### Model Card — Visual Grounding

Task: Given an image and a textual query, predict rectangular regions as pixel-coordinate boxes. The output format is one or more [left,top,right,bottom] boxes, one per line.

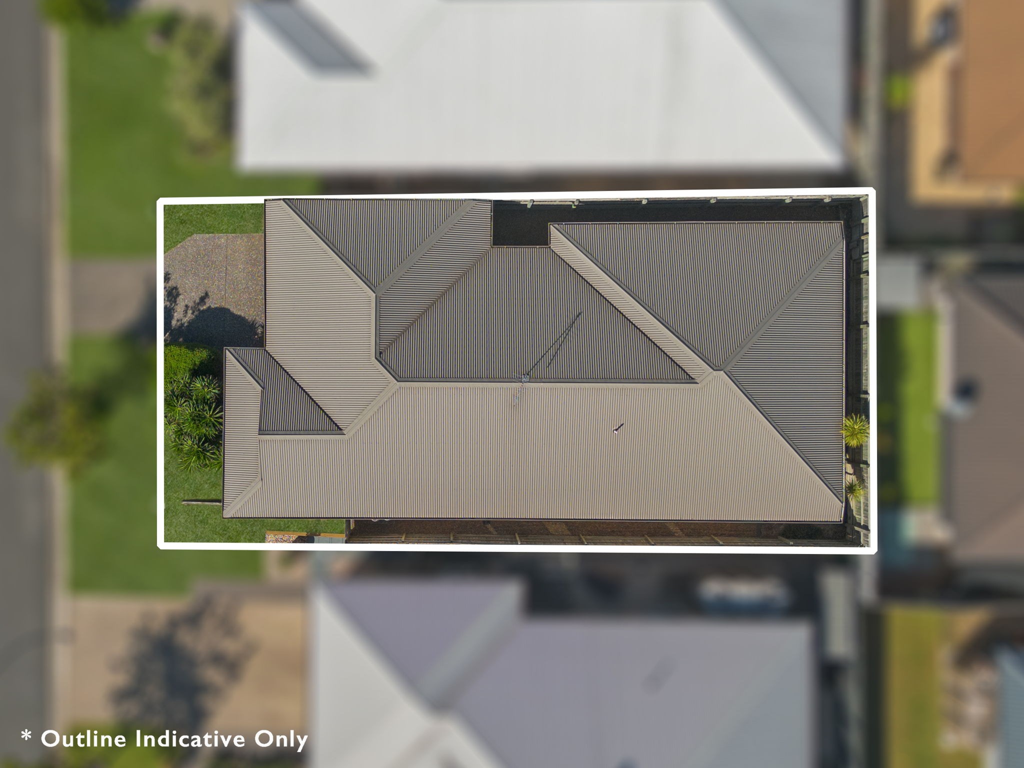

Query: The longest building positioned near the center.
[223,195,849,522]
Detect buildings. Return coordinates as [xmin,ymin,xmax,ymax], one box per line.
[852,259,922,311]
[223,195,849,522]
[313,575,810,768]
[952,0,1024,182]
[935,274,1024,561]
[240,0,847,179]
[975,642,1024,768]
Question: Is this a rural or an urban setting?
urban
